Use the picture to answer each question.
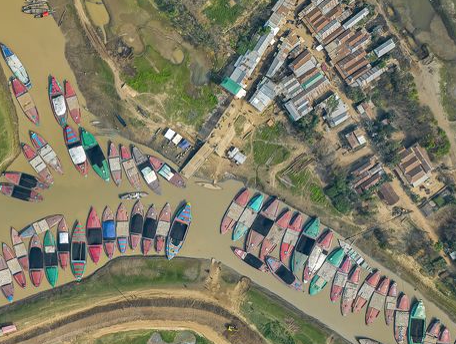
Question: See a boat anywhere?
Yes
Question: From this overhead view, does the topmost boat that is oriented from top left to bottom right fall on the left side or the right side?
left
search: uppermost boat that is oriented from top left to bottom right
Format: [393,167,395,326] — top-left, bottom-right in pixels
[0,43,32,88]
